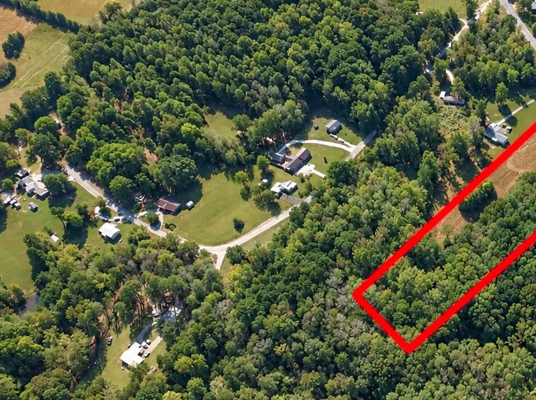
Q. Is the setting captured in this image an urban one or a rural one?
rural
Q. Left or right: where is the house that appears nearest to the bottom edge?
left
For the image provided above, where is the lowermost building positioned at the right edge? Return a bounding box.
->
[484,125,510,145]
